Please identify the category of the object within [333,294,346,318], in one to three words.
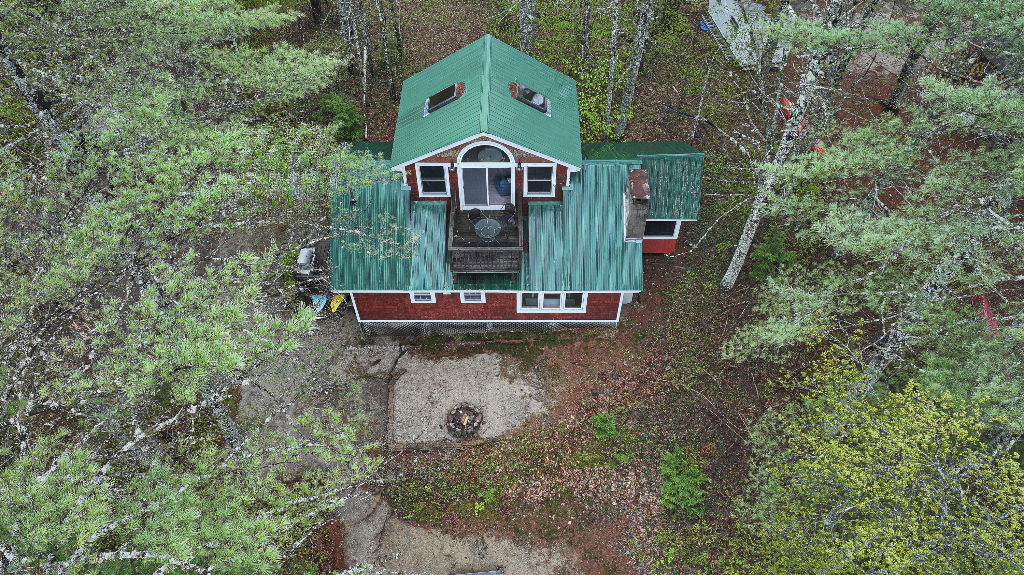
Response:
boat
